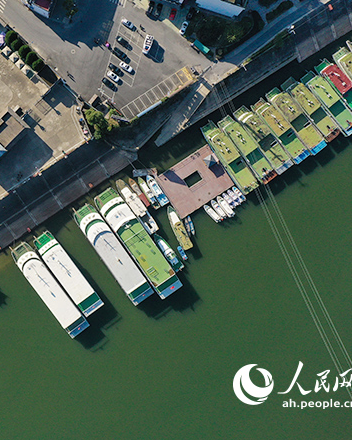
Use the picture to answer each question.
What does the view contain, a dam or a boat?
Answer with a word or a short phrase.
boat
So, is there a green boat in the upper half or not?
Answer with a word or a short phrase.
Yes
